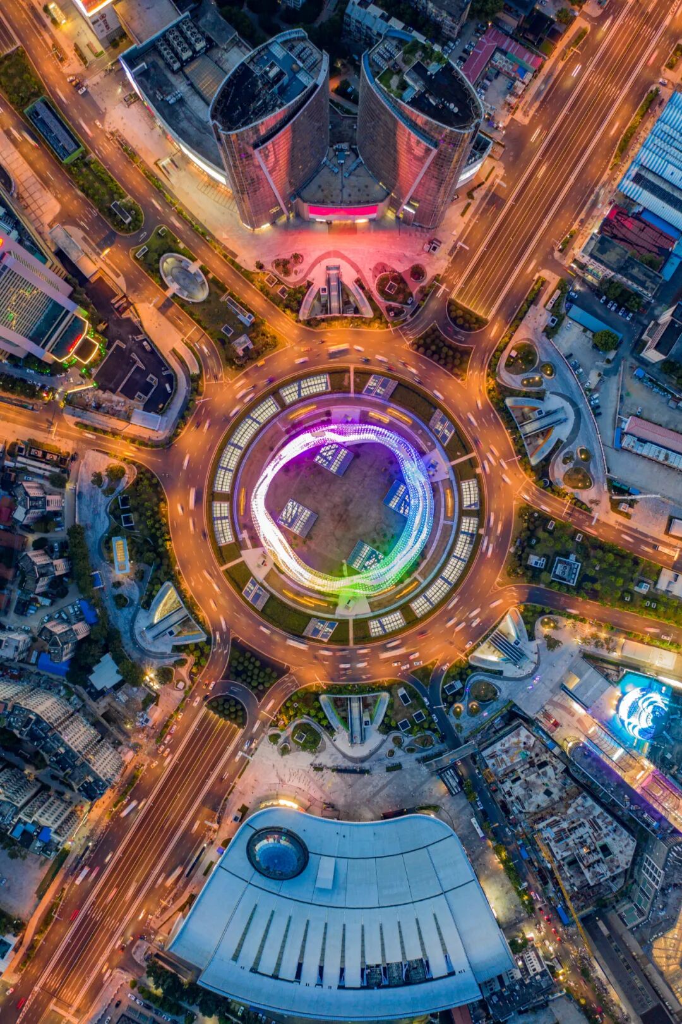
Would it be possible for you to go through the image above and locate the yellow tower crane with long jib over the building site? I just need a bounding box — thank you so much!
[527,826,594,957]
